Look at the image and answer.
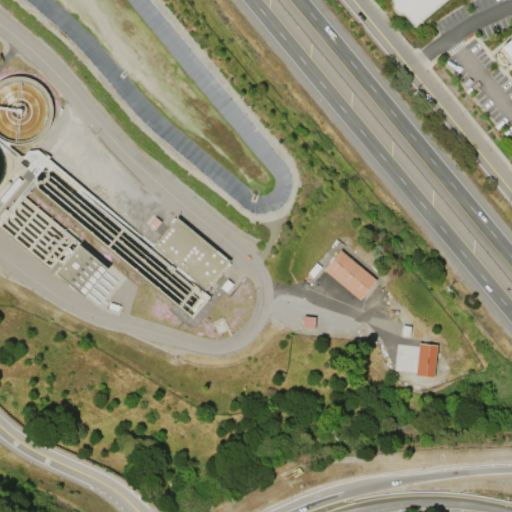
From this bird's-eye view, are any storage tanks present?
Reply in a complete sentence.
Yes, there's a storage tank here.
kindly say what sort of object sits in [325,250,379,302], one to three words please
barn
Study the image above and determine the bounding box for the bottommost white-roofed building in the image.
[396,344,420,374]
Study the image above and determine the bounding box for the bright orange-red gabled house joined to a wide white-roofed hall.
[418,343,439,378]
